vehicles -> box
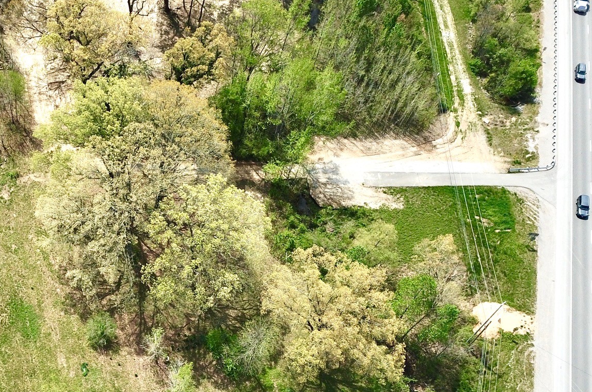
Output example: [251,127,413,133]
[575,0,592,13]
[577,192,591,217]
[576,60,588,81]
